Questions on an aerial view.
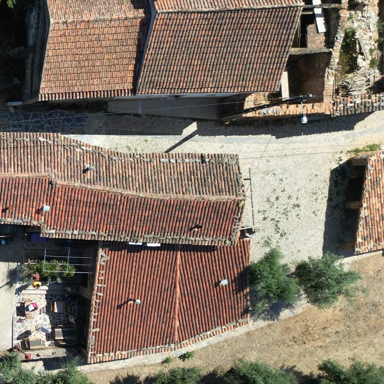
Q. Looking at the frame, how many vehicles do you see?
0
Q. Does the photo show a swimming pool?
No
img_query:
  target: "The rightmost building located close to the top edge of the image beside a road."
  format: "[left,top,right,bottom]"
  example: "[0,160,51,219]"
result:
[311,0,384,122]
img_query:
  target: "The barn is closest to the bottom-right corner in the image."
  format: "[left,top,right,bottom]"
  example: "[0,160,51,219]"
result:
[335,153,384,254]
